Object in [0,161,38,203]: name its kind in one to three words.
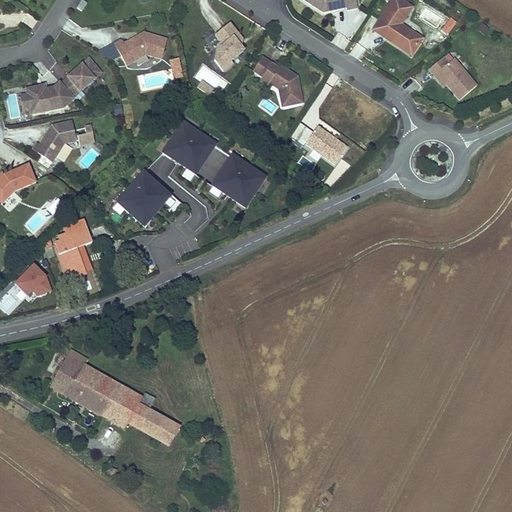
house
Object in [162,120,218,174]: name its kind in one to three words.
building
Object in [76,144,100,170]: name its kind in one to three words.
swimming pool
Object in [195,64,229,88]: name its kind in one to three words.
shed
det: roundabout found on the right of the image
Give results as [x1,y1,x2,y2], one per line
[395,125,469,198]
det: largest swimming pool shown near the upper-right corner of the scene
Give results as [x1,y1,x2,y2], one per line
[416,1,449,48]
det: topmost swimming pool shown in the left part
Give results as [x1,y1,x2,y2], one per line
[138,69,173,93]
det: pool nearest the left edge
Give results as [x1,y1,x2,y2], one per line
[4,88,22,122]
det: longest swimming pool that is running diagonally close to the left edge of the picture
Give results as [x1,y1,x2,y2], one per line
[24,197,60,232]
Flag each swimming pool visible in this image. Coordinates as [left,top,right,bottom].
[138,69,173,93]
[4,88,22,122]
[297,156,315,170]
[416,1,449,48]
[24,197,60,232]
[76,144,100,170]
[258,98,279,116]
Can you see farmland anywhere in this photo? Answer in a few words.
Yes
